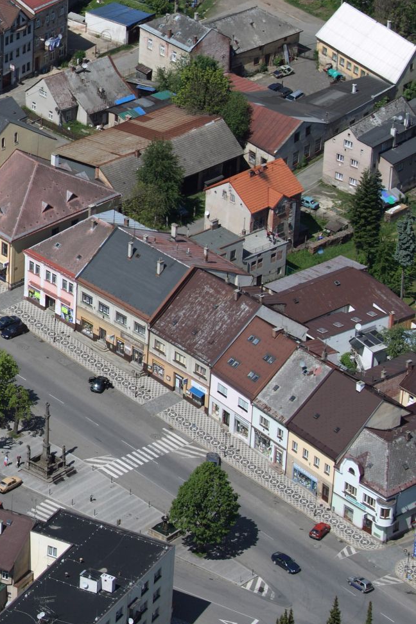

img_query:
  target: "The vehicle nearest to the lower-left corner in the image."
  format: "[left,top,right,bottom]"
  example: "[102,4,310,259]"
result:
[0,475,23,492]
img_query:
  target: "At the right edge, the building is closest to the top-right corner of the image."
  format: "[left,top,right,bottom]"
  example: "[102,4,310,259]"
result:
[314,2,416,105]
